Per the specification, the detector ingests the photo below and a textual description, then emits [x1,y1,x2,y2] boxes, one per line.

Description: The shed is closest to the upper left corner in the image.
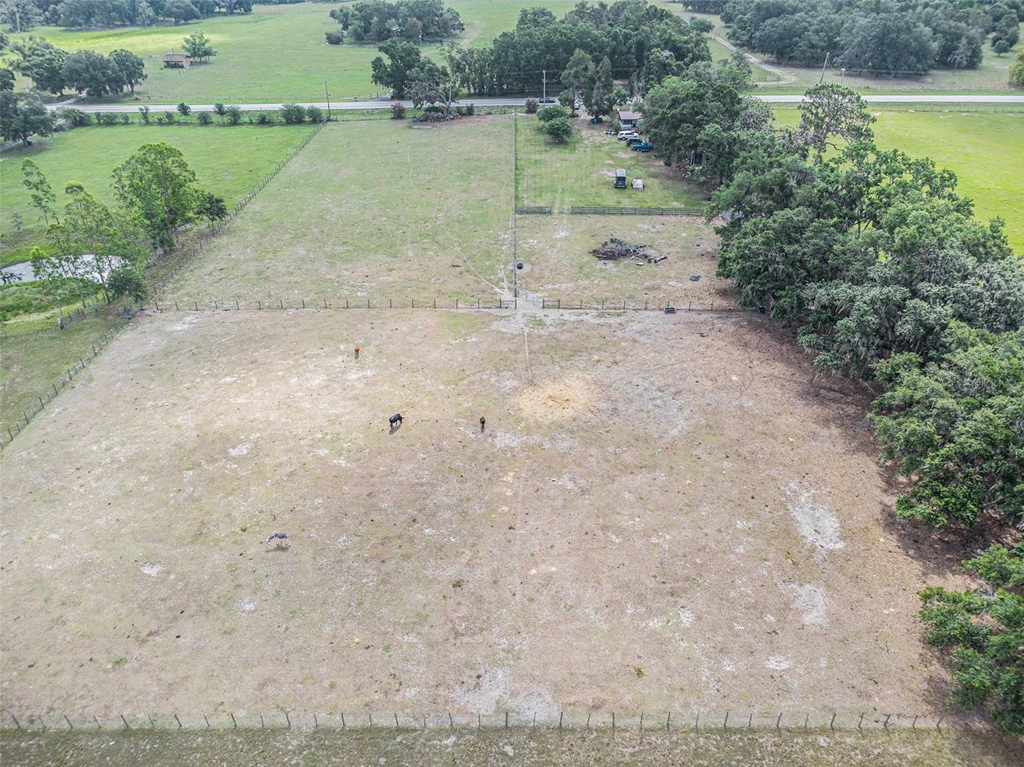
[160,52,196,66]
